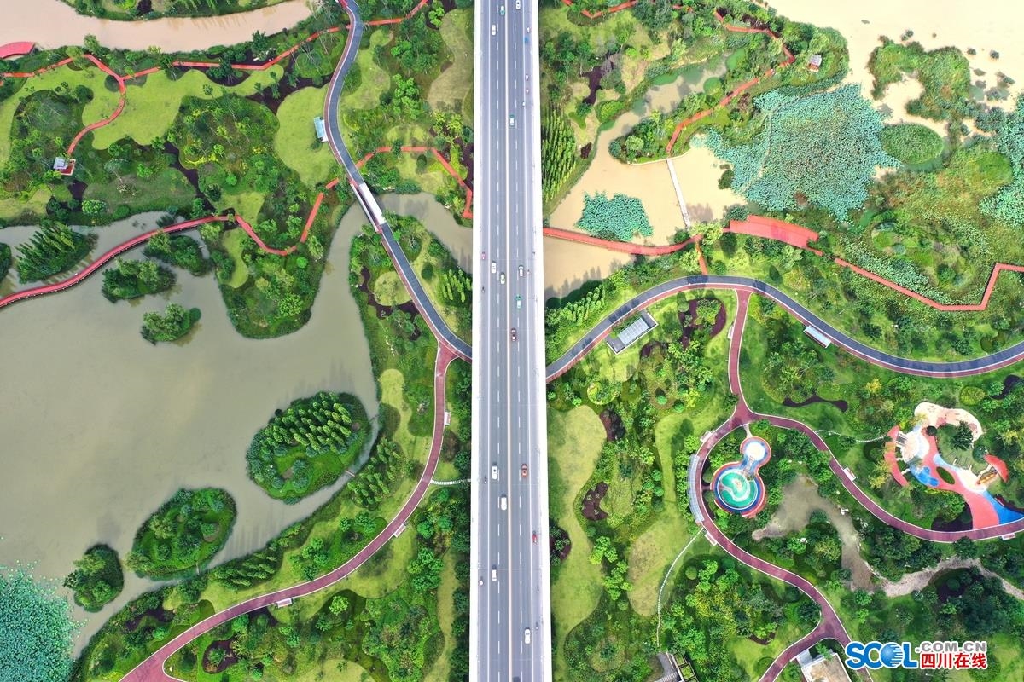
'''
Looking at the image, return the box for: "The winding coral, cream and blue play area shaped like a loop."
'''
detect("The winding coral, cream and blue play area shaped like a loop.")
[902,402,1024,532]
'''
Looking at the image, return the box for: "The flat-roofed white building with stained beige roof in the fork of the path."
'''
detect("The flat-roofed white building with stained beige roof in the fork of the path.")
[795,649,853,682]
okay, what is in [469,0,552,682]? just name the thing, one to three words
bridge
